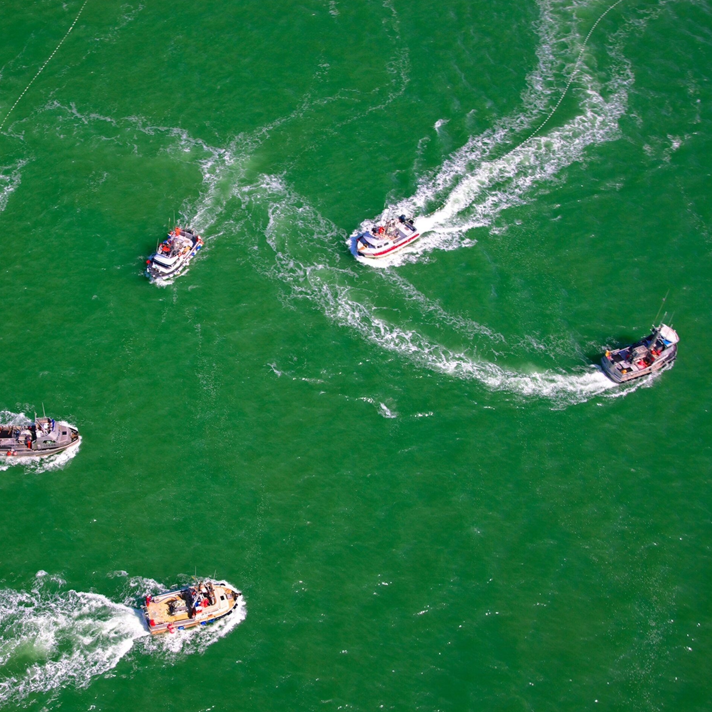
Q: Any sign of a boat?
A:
Yes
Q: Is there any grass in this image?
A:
No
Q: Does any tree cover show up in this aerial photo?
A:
No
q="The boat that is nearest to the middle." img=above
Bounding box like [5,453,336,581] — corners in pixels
[356,208,418,258]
